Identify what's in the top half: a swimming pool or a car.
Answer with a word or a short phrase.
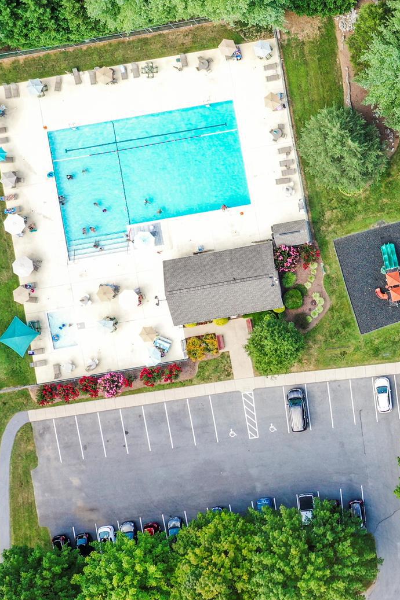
swimming pool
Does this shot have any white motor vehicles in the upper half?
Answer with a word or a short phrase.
No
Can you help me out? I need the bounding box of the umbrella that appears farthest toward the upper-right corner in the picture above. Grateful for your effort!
[253,38,274,59]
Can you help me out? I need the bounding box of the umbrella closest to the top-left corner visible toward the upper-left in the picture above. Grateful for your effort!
[26,76,46,97]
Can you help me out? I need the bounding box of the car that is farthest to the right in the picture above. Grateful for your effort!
[374,376,393,412]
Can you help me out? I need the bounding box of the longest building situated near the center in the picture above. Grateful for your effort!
[159,241,284,325]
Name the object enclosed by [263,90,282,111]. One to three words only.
umbrella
